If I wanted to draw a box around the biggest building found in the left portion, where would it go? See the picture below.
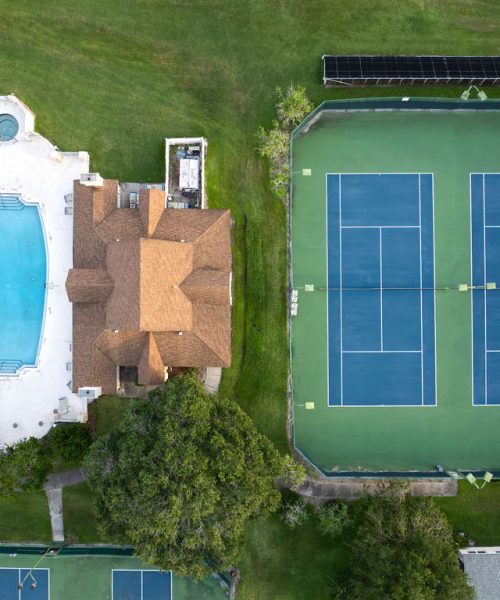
[67,173,232,398]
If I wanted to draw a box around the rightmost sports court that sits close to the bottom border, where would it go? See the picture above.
[112,570,174,600]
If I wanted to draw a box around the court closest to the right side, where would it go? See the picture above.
[468,173,500,405]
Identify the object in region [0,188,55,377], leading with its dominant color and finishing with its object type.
blue swimming pool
